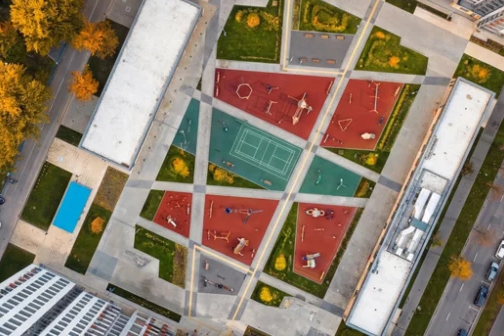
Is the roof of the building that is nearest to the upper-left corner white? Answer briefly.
Yes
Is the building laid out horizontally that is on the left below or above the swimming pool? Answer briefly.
below it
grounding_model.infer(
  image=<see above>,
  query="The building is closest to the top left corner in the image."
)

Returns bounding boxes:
[78,0,201,170]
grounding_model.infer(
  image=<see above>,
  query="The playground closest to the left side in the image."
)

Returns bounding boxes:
[153,191,192,238]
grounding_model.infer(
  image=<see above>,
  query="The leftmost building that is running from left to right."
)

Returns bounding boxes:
[0,263,180,336]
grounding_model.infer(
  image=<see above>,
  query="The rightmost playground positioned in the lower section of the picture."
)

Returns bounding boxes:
[293,203,356,284]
